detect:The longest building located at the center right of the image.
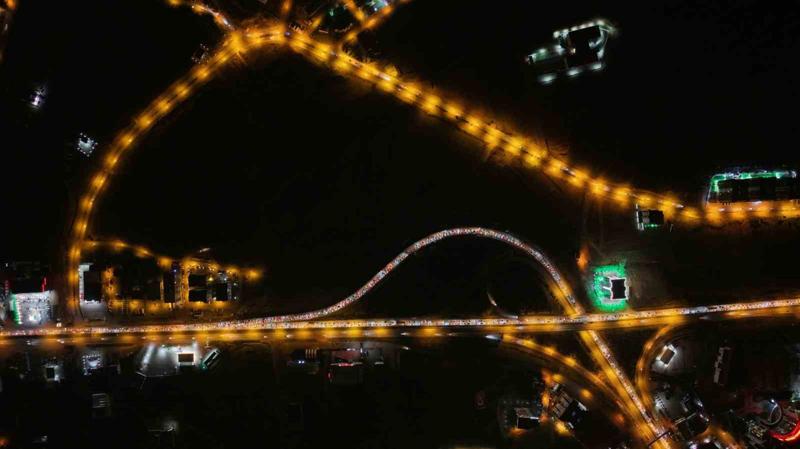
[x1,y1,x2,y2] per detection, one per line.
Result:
[714,177,798,202]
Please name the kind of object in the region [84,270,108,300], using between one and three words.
building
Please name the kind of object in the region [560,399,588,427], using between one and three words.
building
